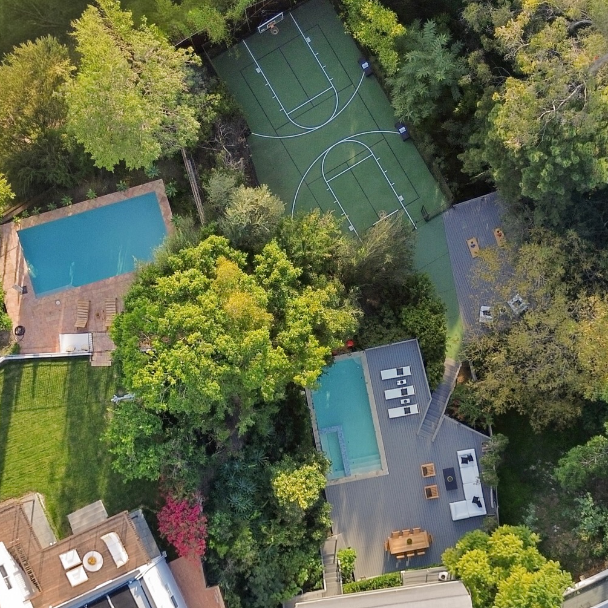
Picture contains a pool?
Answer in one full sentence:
Yes, looking at the shot, I can spot a pool.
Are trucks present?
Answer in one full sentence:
No, the photo shows no truck.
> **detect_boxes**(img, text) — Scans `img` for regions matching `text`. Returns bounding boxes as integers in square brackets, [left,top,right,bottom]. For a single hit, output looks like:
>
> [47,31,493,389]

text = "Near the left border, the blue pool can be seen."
[2,181,171,310]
